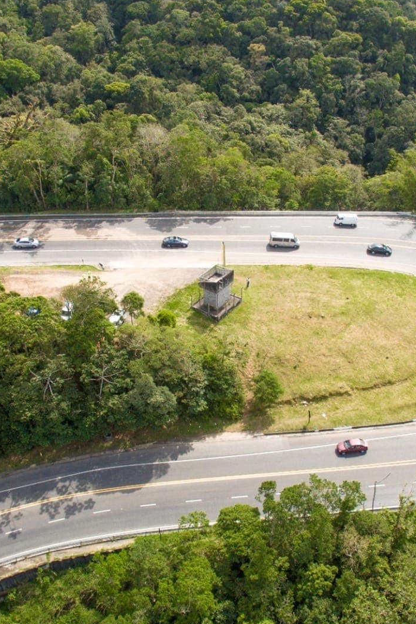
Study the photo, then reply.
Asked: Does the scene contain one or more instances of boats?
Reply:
No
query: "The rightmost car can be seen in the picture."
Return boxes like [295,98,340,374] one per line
[367,242,393,255]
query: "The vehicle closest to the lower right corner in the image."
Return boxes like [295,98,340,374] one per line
[336,439,369,455]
